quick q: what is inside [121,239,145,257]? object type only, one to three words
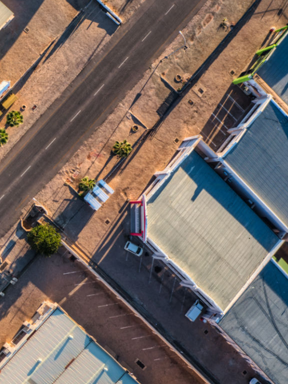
car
